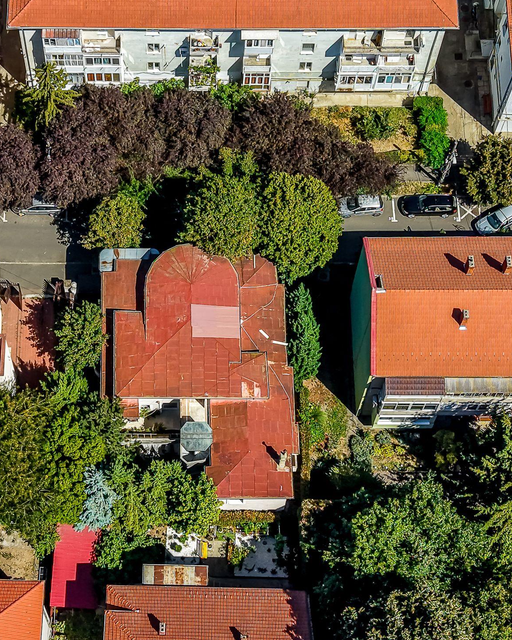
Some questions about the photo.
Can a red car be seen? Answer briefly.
No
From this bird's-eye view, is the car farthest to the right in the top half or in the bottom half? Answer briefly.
top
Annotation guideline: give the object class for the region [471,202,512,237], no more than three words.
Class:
car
